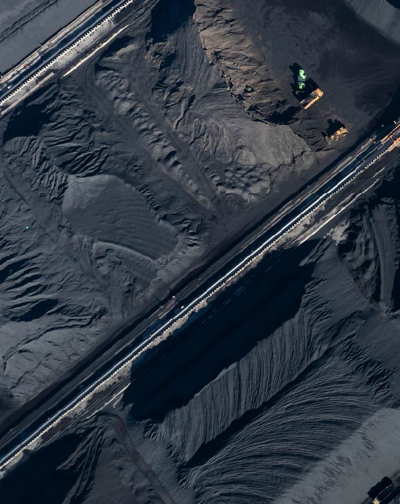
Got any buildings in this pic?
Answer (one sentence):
No, the picture doesn't show any building.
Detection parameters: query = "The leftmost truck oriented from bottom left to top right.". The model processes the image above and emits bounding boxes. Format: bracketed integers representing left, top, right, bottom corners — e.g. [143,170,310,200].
[301,88,323,111]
